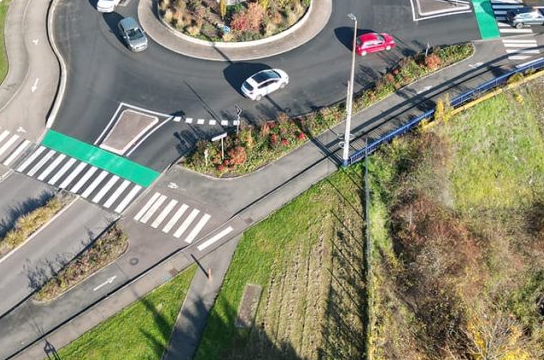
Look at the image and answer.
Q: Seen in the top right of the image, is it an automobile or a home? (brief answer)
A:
automobile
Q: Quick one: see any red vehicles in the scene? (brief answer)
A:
Yes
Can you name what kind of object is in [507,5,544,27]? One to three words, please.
car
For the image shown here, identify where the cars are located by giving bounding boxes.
[239,68,289,99]
[507,5,544,27]
[117,14,147,47]
[96,0,119,10]
[355,31,397,56]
